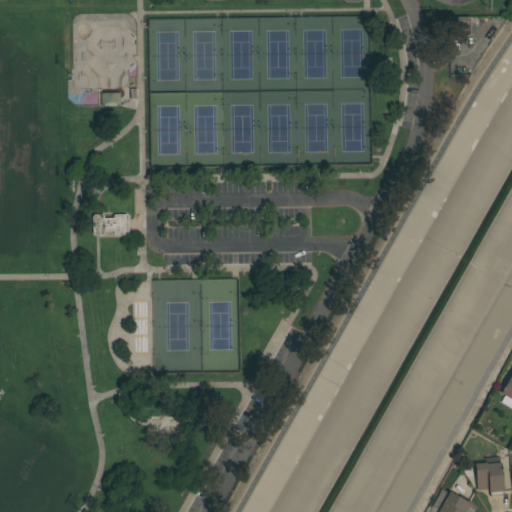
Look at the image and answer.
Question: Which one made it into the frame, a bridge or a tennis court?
tennis court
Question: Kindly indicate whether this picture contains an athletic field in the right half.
No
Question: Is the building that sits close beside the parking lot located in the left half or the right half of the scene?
left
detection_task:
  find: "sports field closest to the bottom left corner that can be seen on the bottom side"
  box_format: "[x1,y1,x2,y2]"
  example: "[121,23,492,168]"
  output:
[0,412,92,512]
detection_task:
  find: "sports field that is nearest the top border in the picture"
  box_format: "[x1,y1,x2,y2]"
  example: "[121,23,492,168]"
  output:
[0,12,66,271]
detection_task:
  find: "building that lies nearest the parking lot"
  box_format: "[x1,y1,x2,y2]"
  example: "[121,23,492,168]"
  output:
[93,212,130,236]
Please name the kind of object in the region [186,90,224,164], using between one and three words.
tennis court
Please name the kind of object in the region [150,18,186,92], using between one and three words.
tennis court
